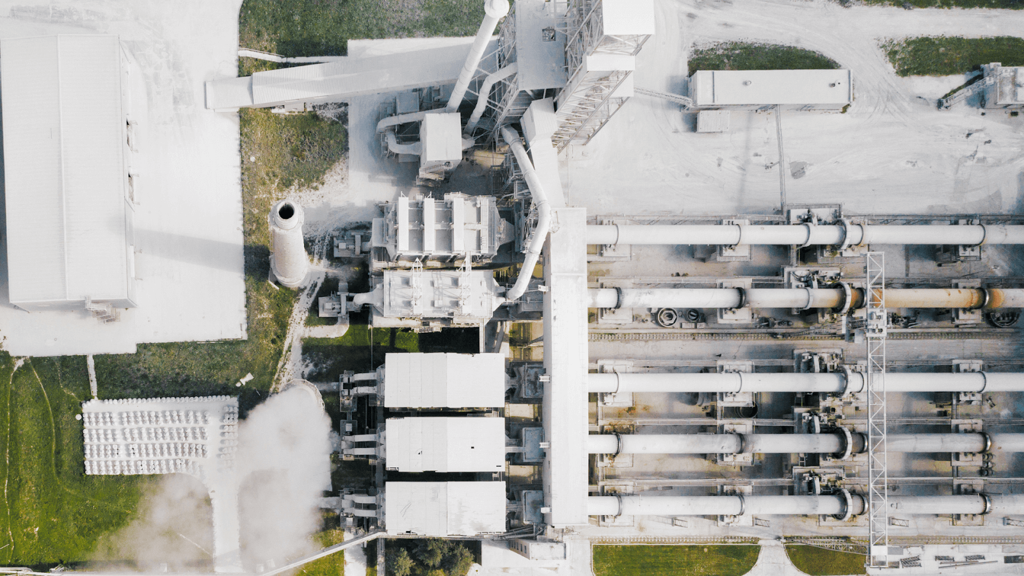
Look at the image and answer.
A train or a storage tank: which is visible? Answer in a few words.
storage tank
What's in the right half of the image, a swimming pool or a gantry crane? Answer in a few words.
gantry crane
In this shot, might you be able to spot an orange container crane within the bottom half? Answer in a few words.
No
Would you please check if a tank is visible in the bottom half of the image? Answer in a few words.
Yes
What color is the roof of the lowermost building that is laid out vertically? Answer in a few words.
white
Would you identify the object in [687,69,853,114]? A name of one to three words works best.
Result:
building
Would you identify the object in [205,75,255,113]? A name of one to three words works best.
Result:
house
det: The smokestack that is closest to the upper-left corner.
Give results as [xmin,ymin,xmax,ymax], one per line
[268,199,316,296]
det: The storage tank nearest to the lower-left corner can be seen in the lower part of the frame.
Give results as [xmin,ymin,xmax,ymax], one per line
[269,380,324,435]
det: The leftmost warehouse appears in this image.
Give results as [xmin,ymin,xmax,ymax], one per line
[0,33,146,309]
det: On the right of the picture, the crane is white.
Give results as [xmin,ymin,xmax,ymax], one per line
[765,252,887,567]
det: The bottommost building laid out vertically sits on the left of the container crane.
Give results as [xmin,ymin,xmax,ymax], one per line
[530,208,588,529]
